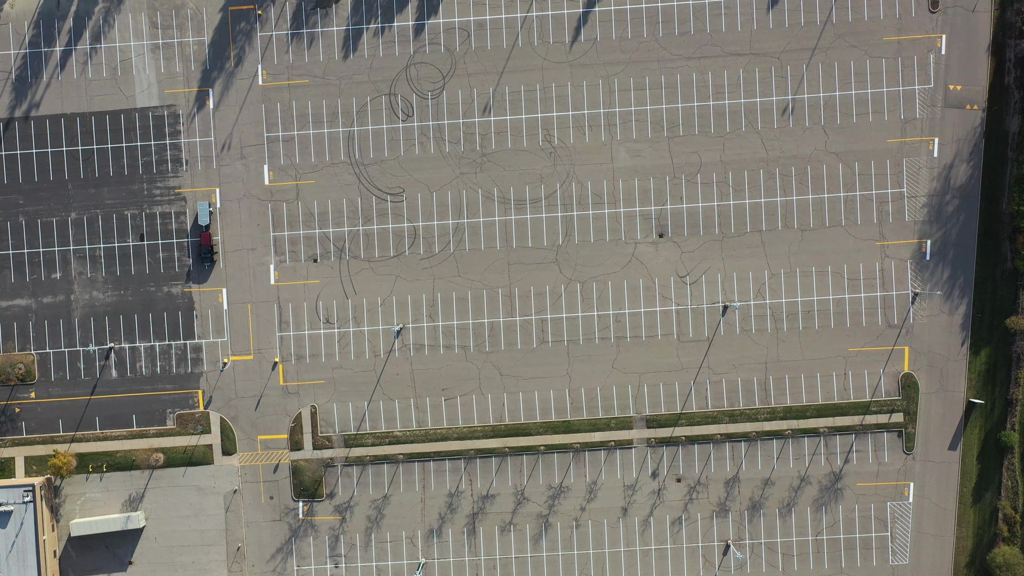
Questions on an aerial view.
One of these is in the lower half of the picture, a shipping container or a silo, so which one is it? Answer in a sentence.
Looking in the lower half of the picture, you will find a shipping container.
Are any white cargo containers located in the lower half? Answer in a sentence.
Yes, there is a white cargo container in the lower half.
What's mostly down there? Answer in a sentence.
The largest share of the image is taken up by paved ground.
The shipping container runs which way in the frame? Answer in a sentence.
The shipping container runs from side to side in the image.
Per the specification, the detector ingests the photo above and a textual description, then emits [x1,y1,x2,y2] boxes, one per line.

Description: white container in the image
[69,511,144,536]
